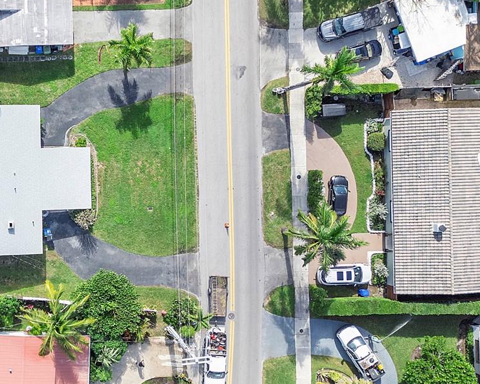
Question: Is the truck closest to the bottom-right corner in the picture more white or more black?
white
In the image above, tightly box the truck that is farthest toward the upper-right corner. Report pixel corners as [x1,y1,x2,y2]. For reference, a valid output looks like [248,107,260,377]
[384,26,408,53]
